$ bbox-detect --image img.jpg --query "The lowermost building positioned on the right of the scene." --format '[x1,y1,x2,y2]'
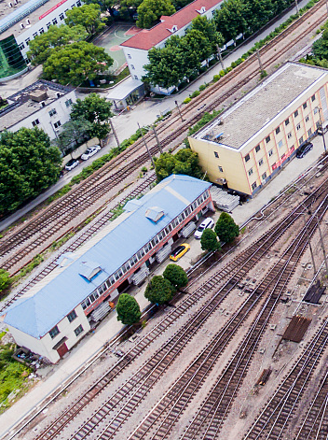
[190,57,328,194]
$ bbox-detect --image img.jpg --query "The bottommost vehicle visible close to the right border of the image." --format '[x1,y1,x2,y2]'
[294,141,313,157]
